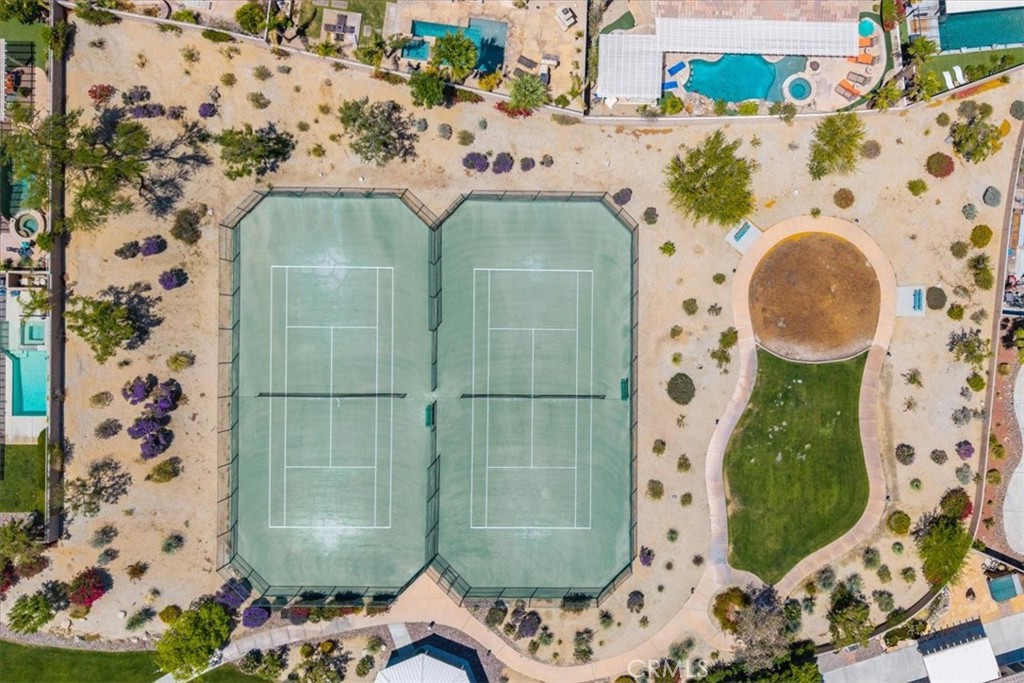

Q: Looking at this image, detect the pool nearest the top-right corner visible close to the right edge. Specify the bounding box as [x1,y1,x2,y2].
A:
[937,7,1024,53]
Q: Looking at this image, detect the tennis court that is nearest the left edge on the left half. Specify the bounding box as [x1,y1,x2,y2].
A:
[230,191,434,595]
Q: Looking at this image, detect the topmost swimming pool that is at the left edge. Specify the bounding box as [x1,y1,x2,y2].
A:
[0,147,32,224]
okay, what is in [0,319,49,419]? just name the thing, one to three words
swimming pool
